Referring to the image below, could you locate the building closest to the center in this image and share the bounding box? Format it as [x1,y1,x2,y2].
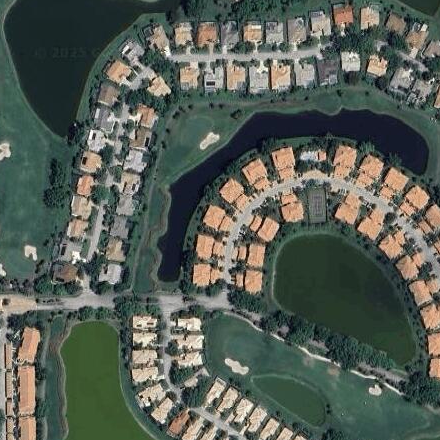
[200,203,234,234]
